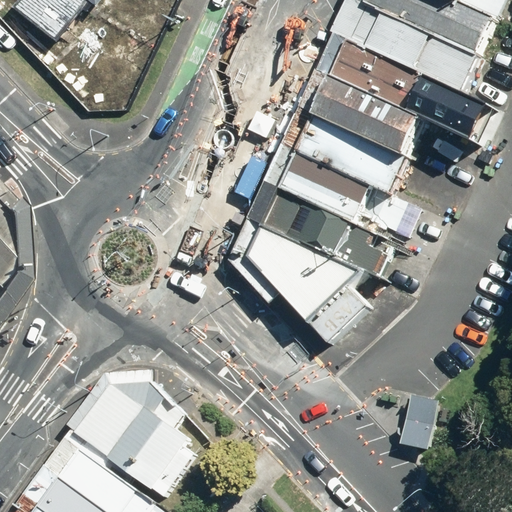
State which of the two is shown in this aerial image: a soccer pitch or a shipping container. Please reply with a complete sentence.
The one in the frame is a shipping container.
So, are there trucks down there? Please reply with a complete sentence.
Yes, this view includes a truck.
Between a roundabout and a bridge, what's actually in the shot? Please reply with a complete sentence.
Looking from above, you can make out a roundabout.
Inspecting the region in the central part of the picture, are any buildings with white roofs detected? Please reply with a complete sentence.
Yes, a building with a white roof shows up in the central part of the picture.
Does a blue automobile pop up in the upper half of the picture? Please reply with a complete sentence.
Yes, a blue automobile is visible in the upper half of the picture.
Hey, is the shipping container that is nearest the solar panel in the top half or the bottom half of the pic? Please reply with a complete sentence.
The shipping container that is nearest the solar panel is in the top half of the image.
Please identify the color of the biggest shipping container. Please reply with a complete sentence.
In this view, the biggest shipping container is blue.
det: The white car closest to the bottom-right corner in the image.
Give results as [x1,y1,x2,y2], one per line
[327,478,356,509]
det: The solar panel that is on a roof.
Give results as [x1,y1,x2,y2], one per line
[290,204,310,232]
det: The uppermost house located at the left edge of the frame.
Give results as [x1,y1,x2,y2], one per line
[14,0,99,42]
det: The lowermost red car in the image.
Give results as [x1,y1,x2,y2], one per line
[300,402,330,420]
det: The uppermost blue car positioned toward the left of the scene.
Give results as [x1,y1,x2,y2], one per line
[153,107,178,138]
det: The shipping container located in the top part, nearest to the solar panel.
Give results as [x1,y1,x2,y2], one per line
[234,154,273,202]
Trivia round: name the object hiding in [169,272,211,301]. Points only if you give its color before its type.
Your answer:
white truck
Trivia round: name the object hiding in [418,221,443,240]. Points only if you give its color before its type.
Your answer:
white vehicle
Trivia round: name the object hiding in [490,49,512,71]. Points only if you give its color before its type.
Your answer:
white car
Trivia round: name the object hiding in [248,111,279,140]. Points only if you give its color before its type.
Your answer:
white tent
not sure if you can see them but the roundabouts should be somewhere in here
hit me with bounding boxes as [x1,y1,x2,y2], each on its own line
[97,226,160,288]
